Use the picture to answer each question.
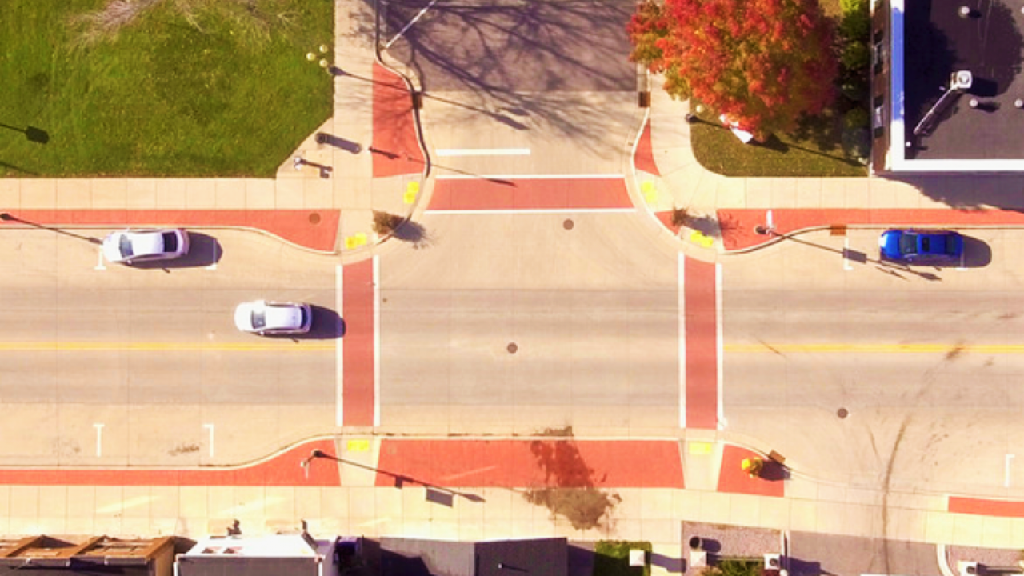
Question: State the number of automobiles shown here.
3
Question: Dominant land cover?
paved ground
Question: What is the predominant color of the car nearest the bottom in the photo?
white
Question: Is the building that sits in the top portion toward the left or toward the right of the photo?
right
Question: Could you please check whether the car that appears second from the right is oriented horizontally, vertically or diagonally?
horizontally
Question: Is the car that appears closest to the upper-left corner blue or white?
white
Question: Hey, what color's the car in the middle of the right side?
blue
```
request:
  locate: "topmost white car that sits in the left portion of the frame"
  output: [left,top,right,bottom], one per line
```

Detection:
[103,227,190,264]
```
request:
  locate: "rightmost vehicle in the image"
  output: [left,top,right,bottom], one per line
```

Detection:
[879,227,965,264]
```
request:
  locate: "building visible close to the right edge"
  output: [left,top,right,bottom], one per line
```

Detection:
[870,0,1024,179]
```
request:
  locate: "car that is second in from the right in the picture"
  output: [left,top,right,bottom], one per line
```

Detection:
[234,298,312,335]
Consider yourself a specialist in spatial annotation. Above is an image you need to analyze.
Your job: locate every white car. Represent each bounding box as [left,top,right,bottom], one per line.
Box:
[234,298,312,335]
[103,227,190,264]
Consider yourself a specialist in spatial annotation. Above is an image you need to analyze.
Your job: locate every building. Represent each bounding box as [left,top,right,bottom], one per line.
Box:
[474,545,569,576]
[0,535,171,576]
[870,0,1024,179]
[176,534,326,576]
